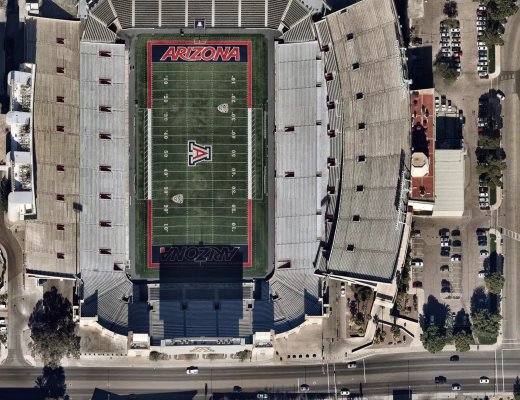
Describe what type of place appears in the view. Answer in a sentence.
This image shows a sports ground.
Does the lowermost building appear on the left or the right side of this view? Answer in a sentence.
You can find the lowermost building on the right side of the picture.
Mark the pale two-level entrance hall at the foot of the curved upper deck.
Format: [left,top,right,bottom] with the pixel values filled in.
[373,287,396,309]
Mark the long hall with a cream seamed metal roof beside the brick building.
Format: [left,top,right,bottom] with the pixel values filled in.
[435,149,467,216]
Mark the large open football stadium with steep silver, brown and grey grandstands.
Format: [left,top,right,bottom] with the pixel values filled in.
[18,0,415,355]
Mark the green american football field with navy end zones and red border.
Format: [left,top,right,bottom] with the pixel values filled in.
[112,25,290,283]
